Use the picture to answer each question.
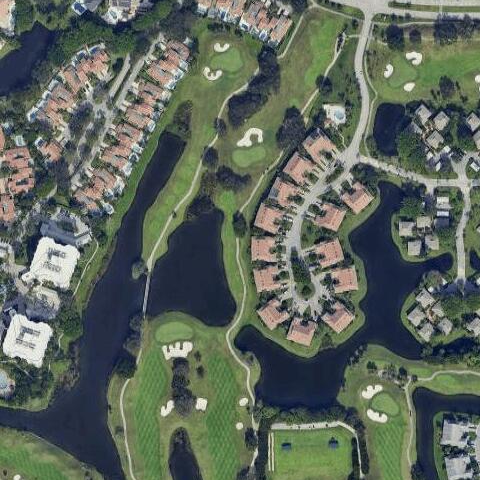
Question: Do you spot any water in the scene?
Yes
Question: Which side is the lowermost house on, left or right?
right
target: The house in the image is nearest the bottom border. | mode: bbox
[444,456,479,480]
